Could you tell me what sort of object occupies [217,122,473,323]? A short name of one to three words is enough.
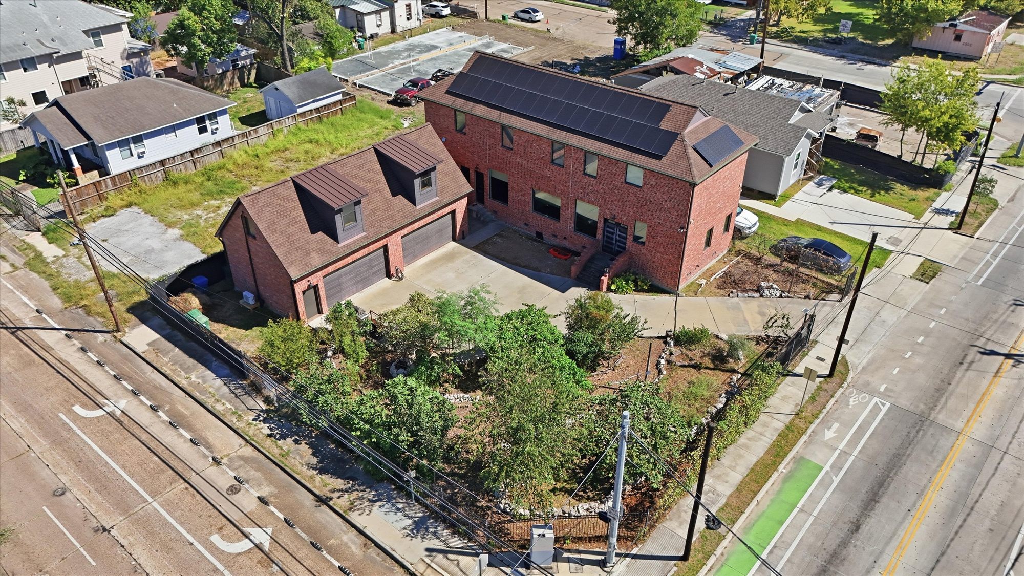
building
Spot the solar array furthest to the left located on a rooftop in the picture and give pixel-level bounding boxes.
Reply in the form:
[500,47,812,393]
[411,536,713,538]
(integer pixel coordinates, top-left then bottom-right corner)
[446,55,678,157]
